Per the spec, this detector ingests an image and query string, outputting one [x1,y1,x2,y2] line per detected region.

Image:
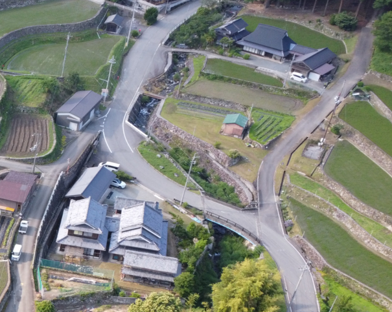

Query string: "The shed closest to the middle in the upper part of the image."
[221,111,247,137]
